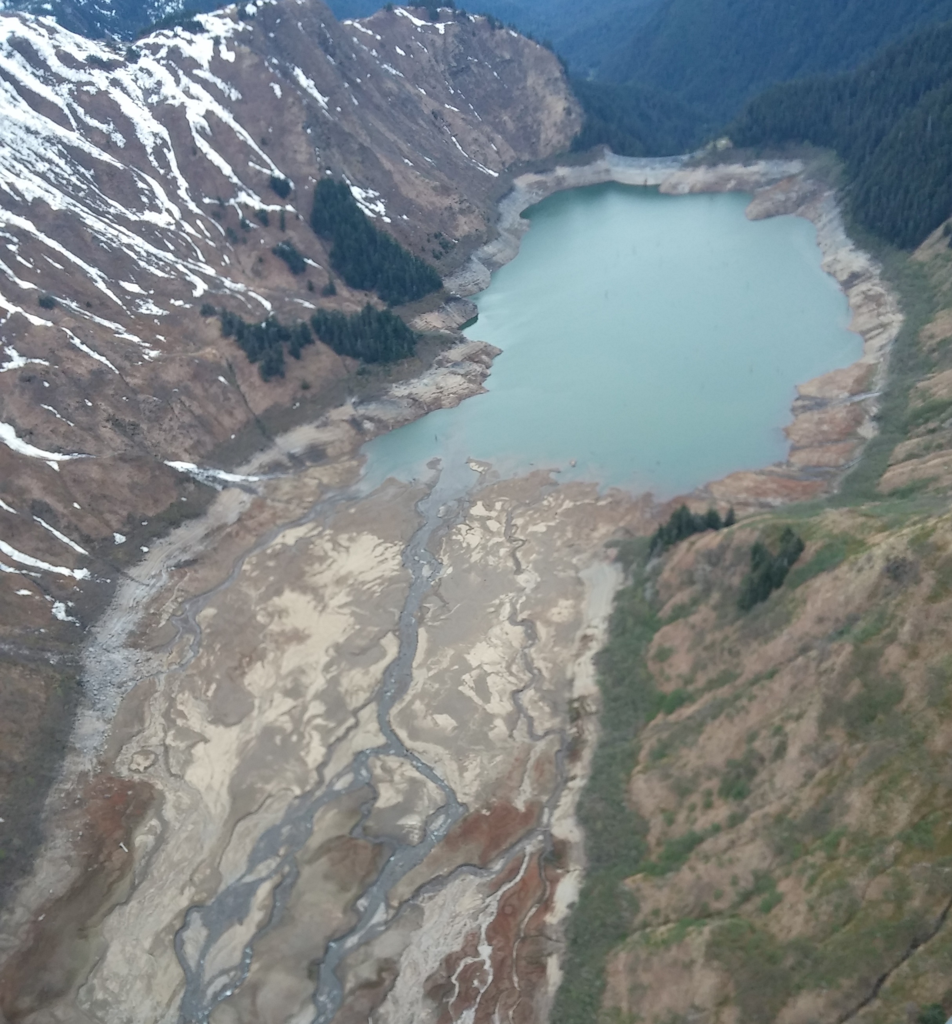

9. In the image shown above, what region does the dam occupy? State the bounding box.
[602,146,709,185]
